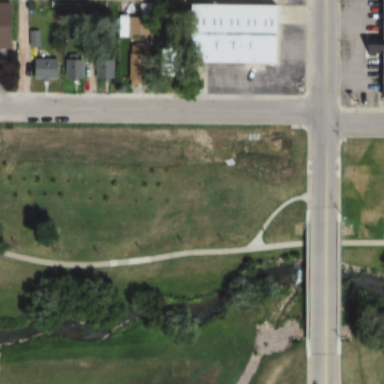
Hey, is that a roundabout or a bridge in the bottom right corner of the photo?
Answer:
bridge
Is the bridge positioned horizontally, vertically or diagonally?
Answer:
vertically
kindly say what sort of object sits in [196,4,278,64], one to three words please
building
